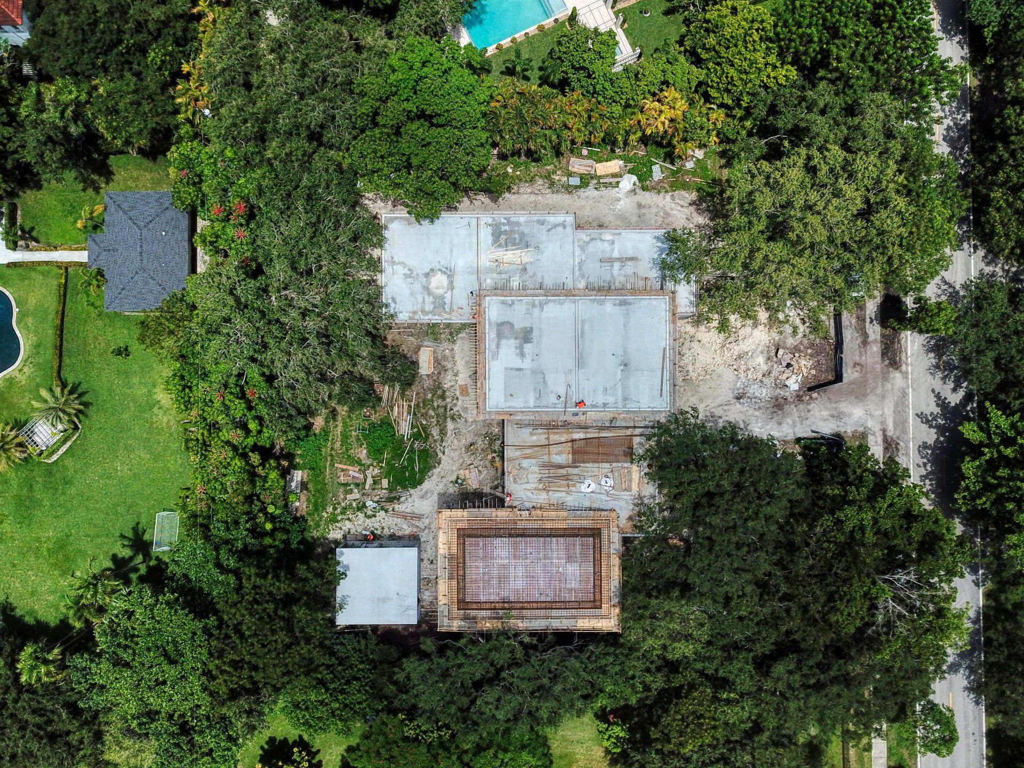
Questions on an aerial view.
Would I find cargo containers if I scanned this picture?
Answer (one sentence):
No, there is no cargo container in the image.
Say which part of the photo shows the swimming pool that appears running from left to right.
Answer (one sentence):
The swimming pool that appears running from left to right sits in the top section of the image.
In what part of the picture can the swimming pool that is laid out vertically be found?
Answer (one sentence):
You can find the swimming pool that is laid out vertically in the left area of the picture.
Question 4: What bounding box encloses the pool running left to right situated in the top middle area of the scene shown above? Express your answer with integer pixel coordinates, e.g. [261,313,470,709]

[454,0,572,50]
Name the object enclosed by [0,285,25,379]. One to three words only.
swimming pool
